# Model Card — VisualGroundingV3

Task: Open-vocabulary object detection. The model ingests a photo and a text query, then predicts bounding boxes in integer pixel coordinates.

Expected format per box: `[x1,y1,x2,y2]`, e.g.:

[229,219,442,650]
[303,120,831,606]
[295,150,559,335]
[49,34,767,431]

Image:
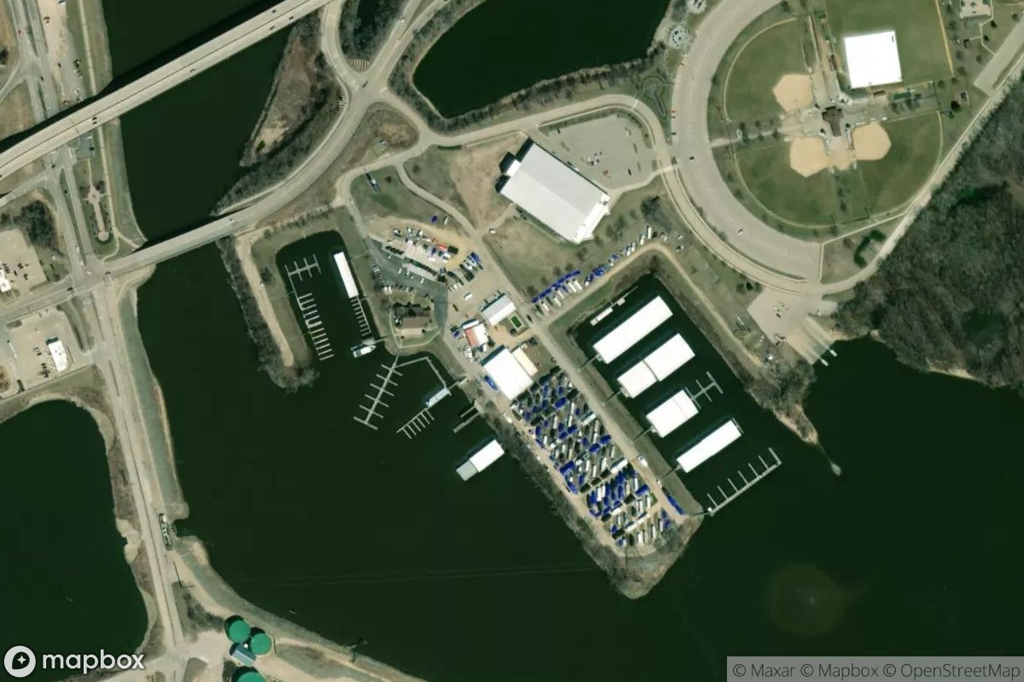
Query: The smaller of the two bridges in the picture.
[143,218,237,266]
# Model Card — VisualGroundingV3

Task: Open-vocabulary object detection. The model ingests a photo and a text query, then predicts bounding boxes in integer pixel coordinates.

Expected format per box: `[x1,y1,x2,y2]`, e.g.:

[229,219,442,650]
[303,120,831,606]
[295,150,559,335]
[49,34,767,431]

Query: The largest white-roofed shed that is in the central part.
[484,348,533,399]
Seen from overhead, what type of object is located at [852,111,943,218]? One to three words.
baseball field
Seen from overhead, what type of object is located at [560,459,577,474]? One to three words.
boat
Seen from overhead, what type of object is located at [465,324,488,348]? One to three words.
building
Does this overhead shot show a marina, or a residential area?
marina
